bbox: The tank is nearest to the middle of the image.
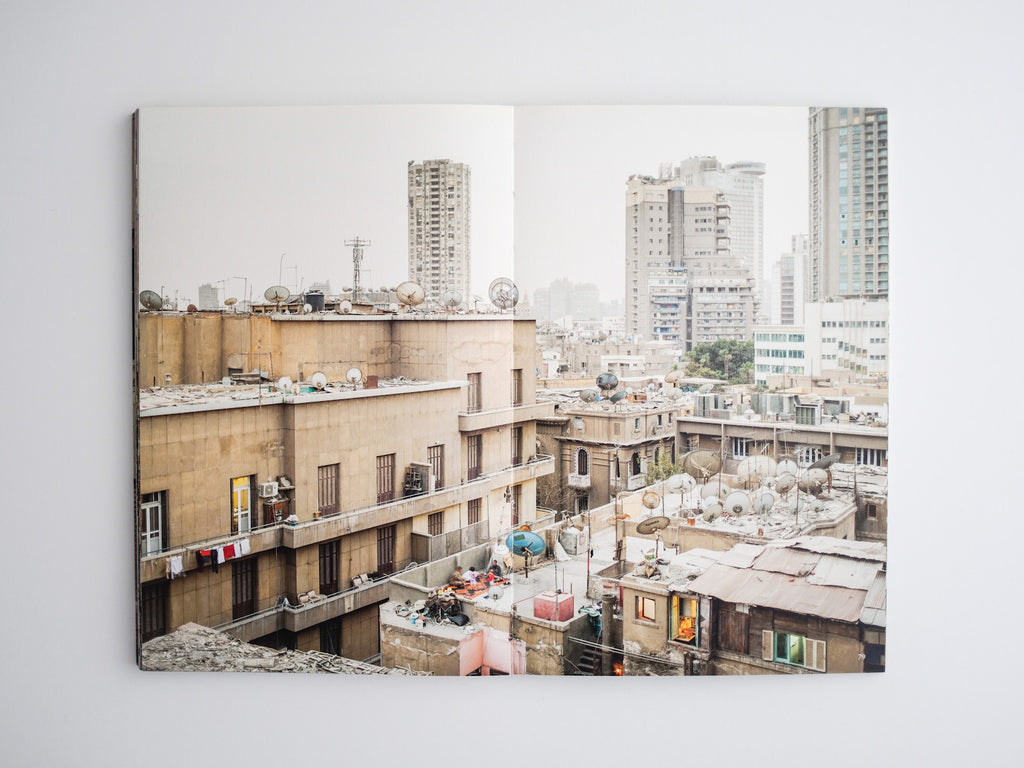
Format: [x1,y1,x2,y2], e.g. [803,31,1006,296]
[560,509,588,554]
